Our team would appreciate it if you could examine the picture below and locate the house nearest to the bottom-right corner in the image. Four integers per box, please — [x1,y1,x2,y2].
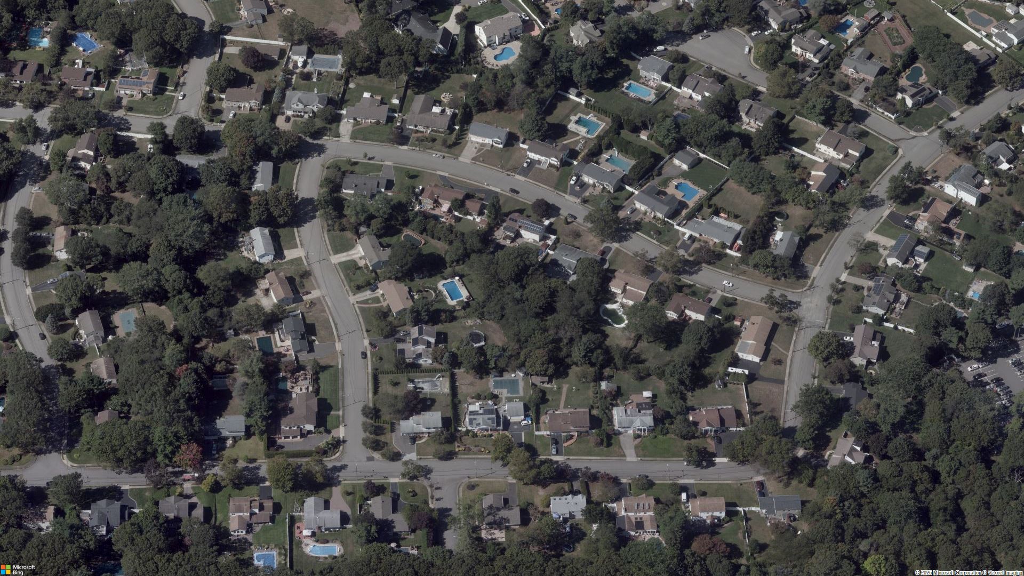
[828,437,863,475]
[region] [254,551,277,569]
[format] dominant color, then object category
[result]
blue swimming pool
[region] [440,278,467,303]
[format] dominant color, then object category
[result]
blue swimming pool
